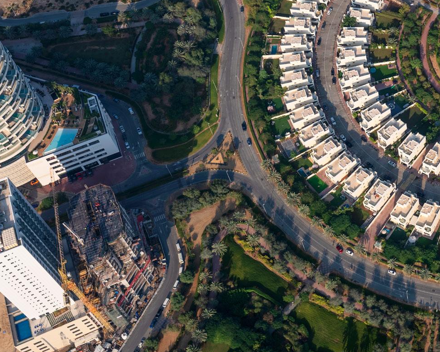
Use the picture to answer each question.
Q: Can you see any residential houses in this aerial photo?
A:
Yes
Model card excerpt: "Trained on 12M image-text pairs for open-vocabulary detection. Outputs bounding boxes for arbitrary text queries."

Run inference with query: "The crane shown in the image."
[50,182,116,336]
